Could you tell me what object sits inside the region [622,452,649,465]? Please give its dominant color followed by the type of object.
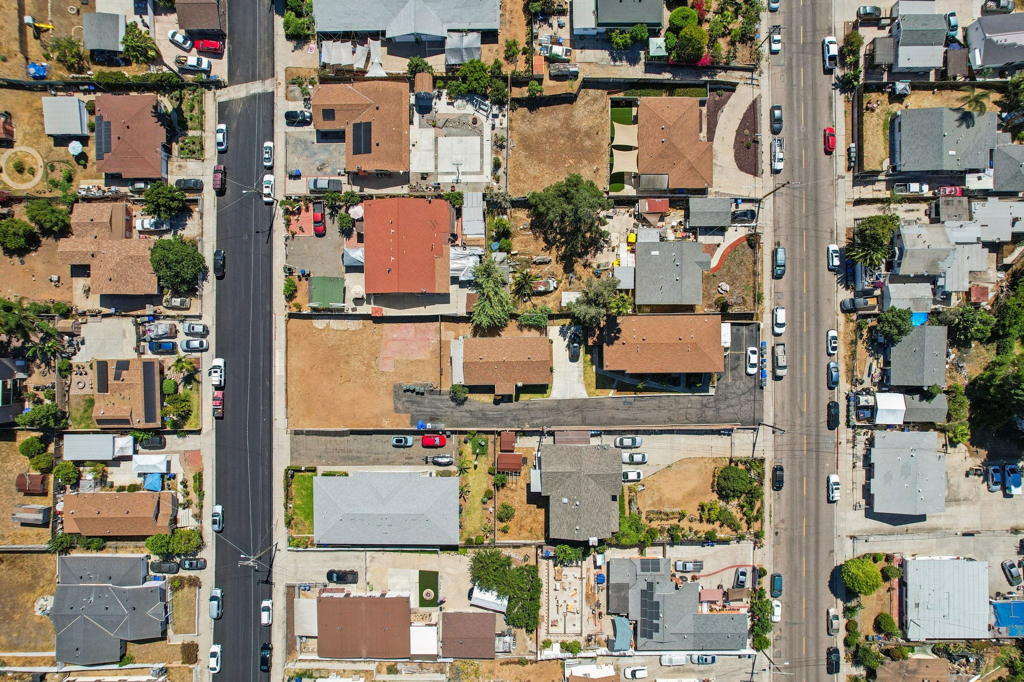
white vehicle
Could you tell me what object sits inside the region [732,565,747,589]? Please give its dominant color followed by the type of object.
gray car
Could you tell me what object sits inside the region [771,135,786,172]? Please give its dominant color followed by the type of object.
white vehicle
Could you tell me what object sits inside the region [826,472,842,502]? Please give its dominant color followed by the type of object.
white car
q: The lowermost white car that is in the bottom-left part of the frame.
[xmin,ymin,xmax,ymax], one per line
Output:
[209,643,223,674]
